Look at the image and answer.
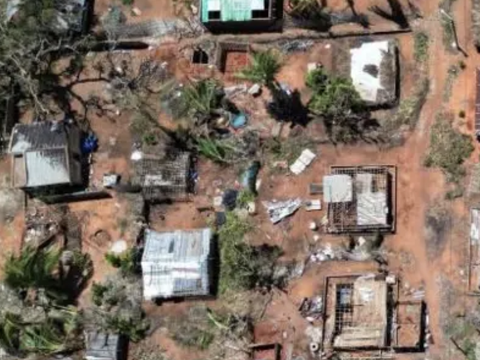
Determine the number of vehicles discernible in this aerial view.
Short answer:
zero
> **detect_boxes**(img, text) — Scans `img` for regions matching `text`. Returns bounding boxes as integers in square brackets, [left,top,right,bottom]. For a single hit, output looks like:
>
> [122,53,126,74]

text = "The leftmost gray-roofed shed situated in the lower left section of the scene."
[84,330,128,360]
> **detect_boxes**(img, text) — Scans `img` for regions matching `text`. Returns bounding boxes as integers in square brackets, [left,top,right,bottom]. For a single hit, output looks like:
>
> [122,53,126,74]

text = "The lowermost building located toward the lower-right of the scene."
[324,272,427,350]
